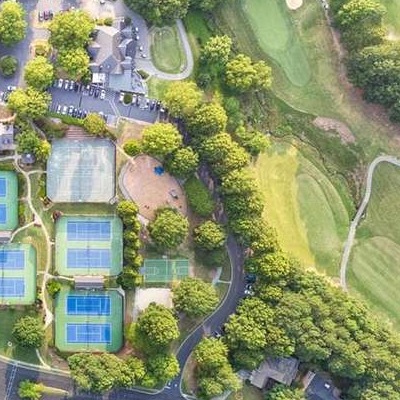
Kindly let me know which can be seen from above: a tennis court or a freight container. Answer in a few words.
tennis court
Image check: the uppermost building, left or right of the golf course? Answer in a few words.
to its left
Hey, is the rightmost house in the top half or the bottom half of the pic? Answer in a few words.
bottom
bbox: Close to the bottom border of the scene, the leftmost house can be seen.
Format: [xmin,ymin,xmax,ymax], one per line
[247,355,298,388]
